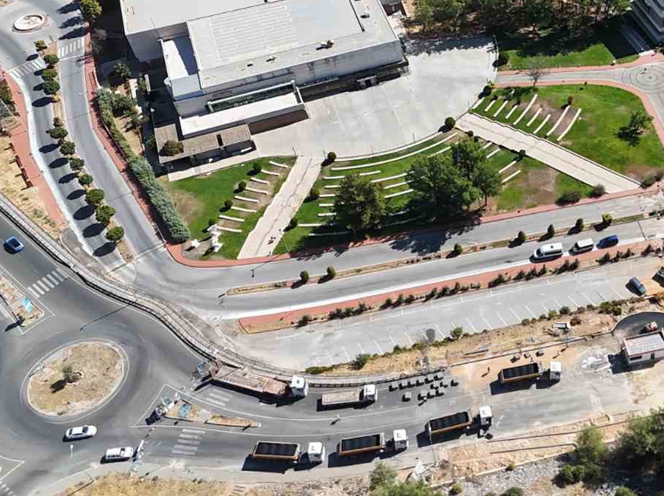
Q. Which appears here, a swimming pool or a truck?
truck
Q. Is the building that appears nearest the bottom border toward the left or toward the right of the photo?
right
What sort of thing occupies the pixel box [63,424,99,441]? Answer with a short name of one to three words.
car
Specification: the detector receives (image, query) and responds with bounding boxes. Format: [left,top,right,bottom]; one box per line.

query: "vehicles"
[533,240,565,262]
[3,238,24,253]
[572,237,596,253]
[654,268,664,280]
[597,234,620,249]
[626,276,648,296]
[102,445,134,463]
[426,405,494,441]
[63,424,99,441]
[192,357,314,401]
[316,381,379,412]
[641,319,658,333]
[497,357,563,390]
[247,442,327,470]
[335,429,409,462]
